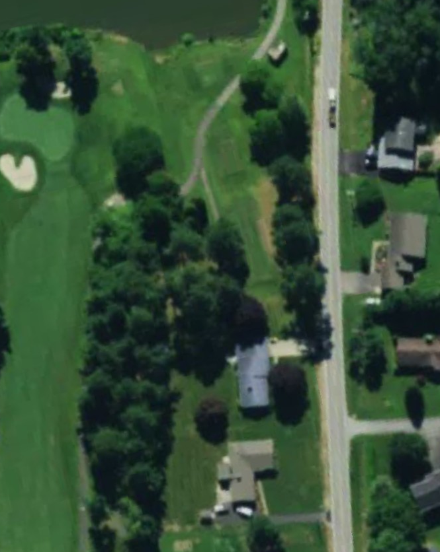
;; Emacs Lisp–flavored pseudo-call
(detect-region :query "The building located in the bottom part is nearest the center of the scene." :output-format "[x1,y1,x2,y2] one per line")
[235,338,270,408]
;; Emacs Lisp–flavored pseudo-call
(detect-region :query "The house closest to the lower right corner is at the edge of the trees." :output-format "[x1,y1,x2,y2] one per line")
[404,467,440,512]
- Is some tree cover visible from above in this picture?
Yes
